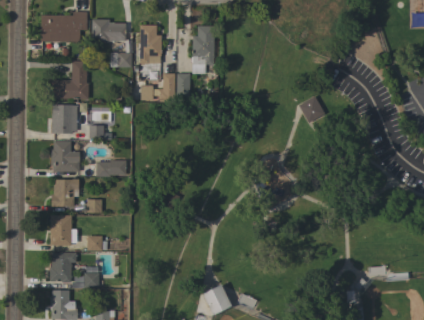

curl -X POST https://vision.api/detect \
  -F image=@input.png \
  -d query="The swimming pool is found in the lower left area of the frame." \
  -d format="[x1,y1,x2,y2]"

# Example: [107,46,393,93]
[102,253,114,275]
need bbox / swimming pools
[86,147,107,160]
[102,253,114,275]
